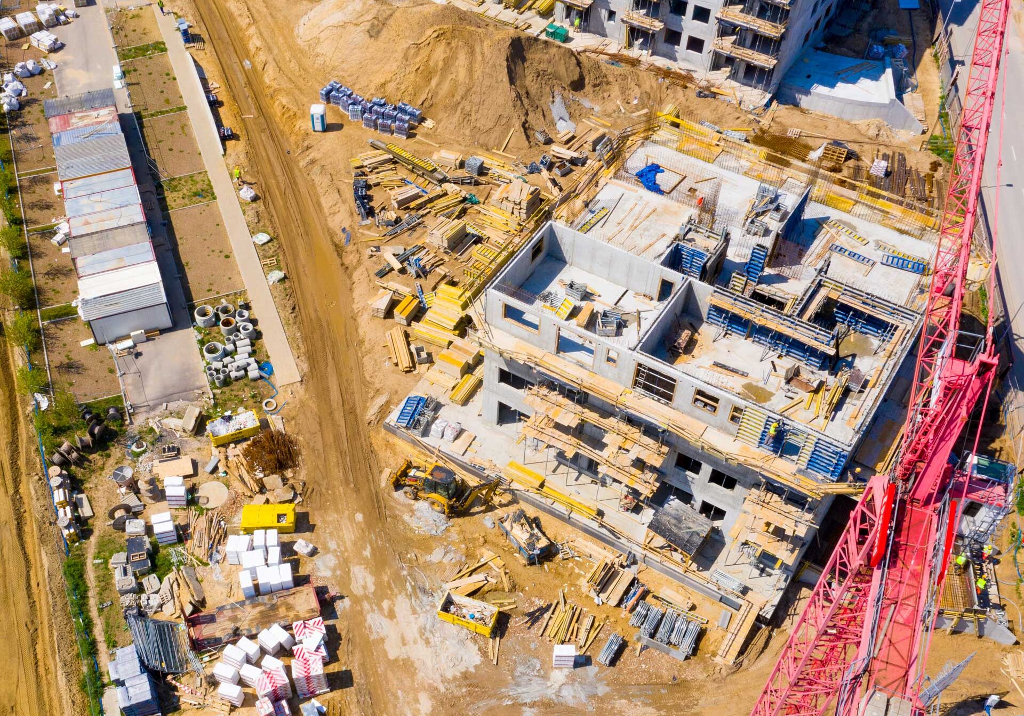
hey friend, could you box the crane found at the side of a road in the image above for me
[749,0,1024,716]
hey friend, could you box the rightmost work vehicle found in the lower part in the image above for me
[380,450,495,530]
